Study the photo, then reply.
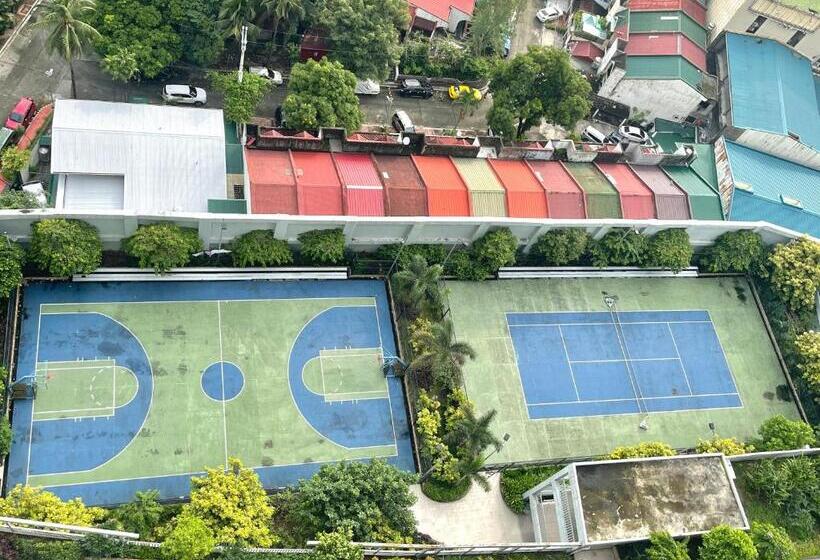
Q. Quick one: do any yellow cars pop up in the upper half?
Yes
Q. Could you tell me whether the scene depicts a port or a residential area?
residential area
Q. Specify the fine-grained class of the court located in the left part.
basketball court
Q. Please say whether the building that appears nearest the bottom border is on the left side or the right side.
right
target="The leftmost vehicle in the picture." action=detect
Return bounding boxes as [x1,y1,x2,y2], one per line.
[7,95,40,137]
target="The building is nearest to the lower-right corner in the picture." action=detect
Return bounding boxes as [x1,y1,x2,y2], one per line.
[513,451,753,554]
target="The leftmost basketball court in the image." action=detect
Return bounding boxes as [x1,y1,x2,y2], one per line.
[4,279,415,510]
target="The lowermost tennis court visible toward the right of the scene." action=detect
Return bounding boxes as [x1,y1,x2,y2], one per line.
[446,276,802,467]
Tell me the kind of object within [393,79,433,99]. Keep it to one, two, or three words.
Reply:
car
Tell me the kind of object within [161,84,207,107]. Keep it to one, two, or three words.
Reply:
car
